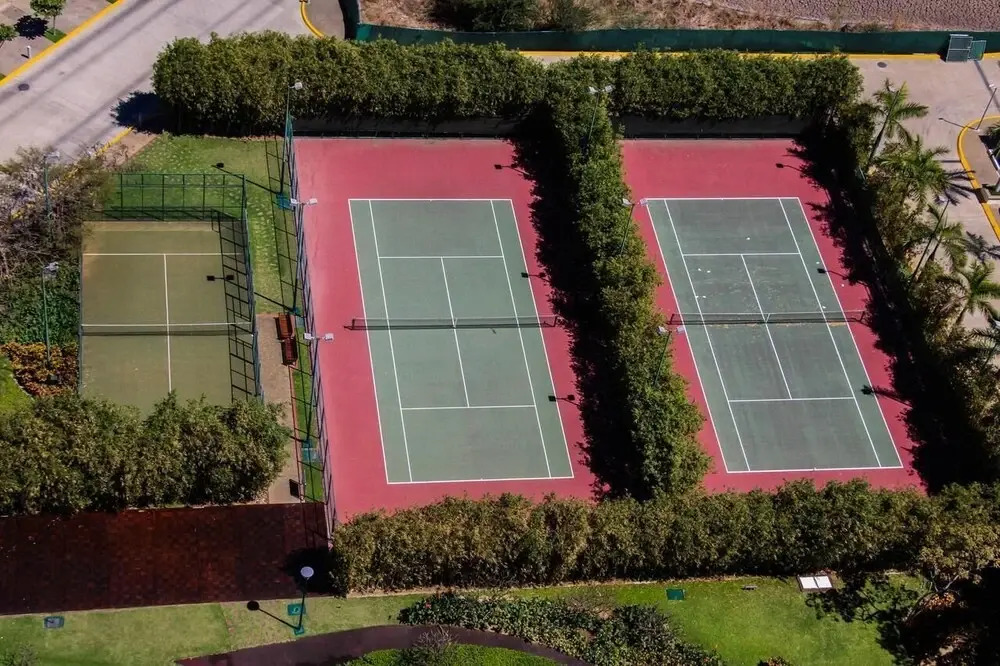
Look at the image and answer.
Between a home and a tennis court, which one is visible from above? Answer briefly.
tennis court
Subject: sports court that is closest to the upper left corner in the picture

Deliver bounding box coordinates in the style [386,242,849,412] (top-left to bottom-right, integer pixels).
[79,221,260,421]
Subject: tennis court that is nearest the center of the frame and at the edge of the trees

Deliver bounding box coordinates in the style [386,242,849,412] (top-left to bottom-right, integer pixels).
[293,138,635,549]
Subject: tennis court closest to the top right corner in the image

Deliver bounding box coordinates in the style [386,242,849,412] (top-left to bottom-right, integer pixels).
[613,138,949,514]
